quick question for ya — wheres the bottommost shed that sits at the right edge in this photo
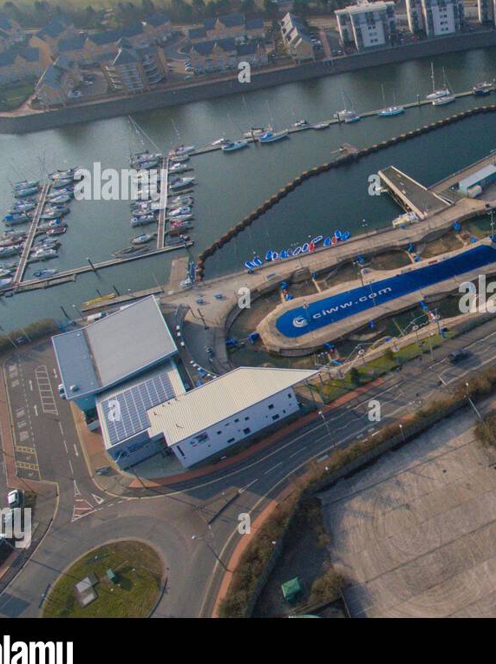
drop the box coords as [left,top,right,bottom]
[455,161,496,193]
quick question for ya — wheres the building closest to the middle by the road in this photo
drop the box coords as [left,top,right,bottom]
[52,297,326,465]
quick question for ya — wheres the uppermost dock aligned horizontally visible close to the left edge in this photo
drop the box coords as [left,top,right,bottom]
[0,239,194,293]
